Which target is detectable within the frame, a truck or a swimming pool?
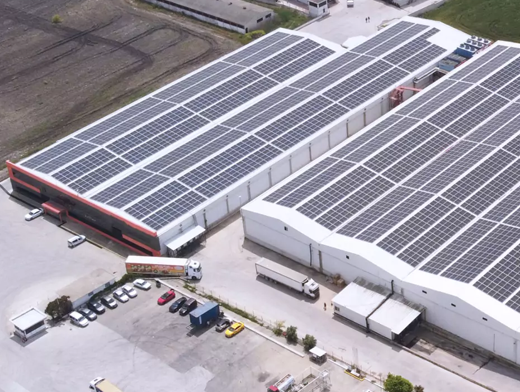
truck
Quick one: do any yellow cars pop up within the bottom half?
Yes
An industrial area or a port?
industrial area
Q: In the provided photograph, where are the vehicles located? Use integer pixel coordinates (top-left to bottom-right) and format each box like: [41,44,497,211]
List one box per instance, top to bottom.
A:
[23,206,43,220]
[65,233,87,246]
[252,254,323,301]
[120,258,204,280]
[130,278,153,289]
[122,282,139,296]
[112,287,130,302]
[156,287,175,303]
[101,293,120,307]
[168,295,188,311]
[178,295,198,314]
[86,299,107,312]
[68,306,88,324]
[78,306,98,320]
[214,313,233,330]
[223,320,246,336]
[264,362,298,392]
[84,375,123,392]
